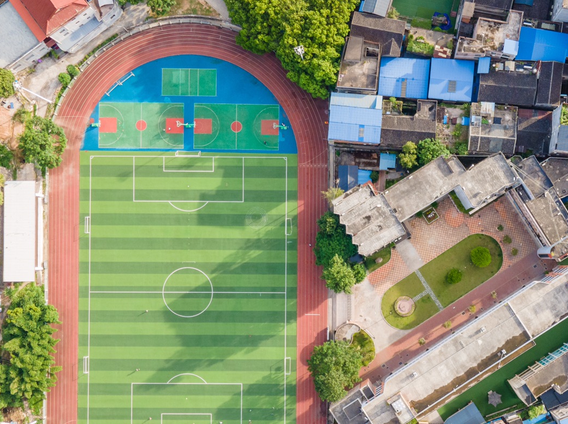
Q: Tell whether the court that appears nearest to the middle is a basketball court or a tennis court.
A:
basketball court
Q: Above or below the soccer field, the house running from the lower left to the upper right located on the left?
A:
above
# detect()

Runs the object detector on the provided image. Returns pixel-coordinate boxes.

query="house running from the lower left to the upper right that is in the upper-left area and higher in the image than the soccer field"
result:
[54,9,124,55]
